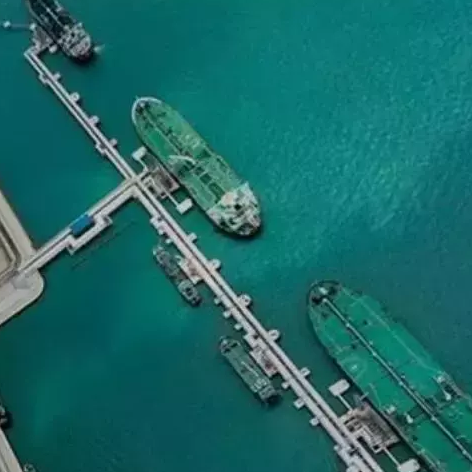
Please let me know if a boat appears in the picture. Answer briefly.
Yes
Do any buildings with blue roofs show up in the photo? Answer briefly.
Yes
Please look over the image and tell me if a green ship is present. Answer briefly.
Yes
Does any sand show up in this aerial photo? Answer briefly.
No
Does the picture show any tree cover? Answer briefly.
No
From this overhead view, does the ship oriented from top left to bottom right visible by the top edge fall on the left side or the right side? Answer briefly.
left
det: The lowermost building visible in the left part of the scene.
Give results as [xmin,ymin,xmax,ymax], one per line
[69,213,95,239]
